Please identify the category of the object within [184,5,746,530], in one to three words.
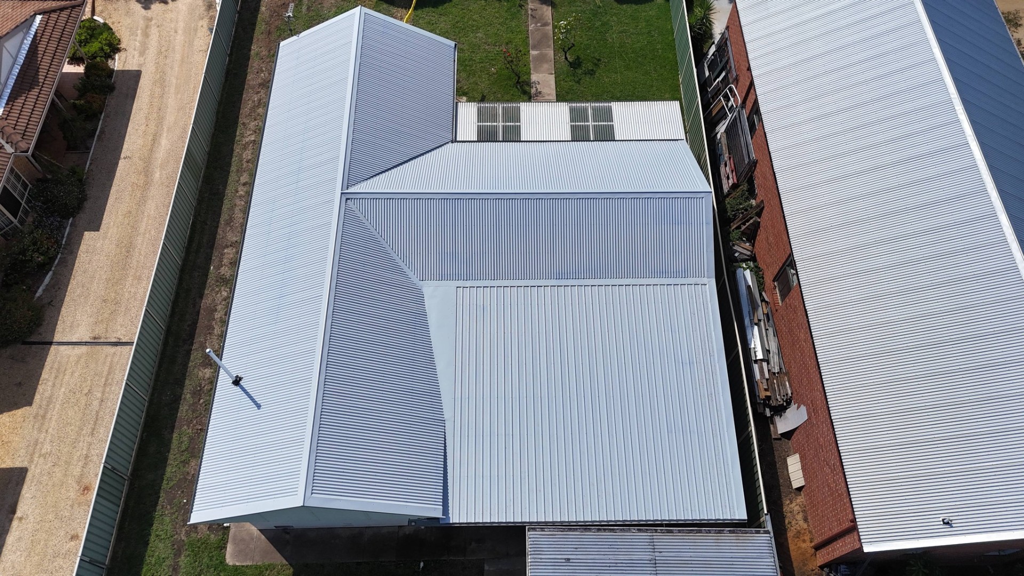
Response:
house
